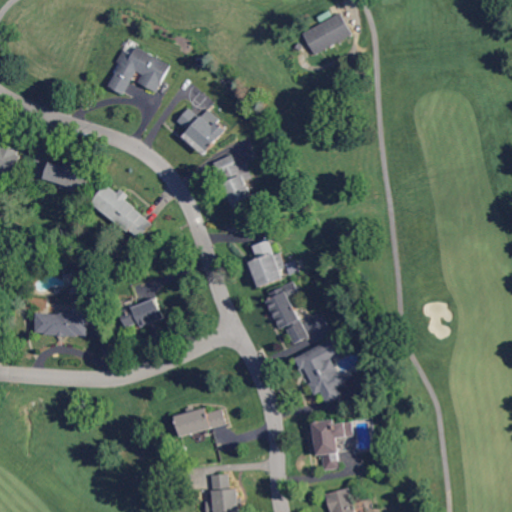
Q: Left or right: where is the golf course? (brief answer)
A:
right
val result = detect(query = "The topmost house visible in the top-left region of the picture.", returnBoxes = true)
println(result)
[108,48,170,94]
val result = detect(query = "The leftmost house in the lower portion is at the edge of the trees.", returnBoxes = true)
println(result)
[33,313,88,337]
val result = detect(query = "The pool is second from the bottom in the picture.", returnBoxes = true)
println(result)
[338,356,358,371]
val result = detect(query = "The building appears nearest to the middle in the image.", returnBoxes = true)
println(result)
[248,238,286,287]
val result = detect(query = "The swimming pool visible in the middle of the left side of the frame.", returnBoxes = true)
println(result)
[34,278,64,291]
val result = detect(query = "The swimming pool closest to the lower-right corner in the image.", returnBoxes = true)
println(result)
[355,423,370,450]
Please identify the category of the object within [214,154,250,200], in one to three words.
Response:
house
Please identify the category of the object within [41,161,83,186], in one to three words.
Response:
house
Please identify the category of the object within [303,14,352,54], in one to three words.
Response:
building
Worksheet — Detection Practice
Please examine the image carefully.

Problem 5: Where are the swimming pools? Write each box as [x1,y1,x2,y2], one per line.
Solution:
[338,356,358,371]
[355,423,370,450]
[34,278,64,291]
